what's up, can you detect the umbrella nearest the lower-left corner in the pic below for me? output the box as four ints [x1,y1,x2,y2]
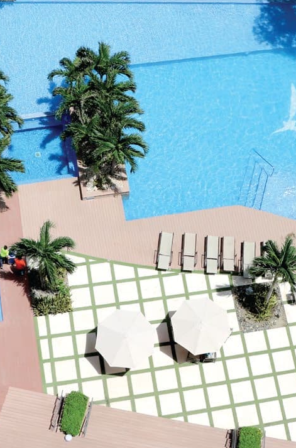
[95,311,157,372]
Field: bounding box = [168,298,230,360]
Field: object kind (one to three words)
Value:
umbrella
